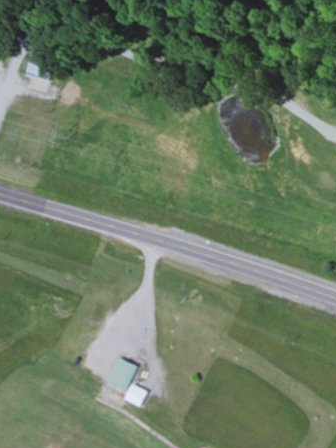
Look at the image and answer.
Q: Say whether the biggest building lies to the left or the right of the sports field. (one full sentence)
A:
To the left of the sports field is where the biggest building appears.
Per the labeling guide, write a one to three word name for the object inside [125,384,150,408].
building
